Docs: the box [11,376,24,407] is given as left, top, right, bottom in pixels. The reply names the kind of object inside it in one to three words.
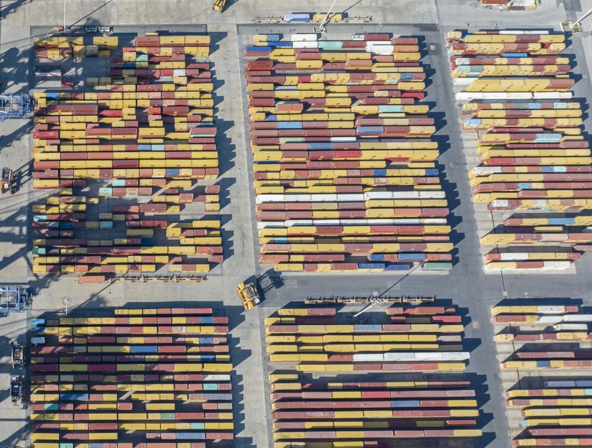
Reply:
vehicle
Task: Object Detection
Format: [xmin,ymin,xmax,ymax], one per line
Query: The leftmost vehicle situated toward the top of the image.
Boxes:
[0,164,15,192]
